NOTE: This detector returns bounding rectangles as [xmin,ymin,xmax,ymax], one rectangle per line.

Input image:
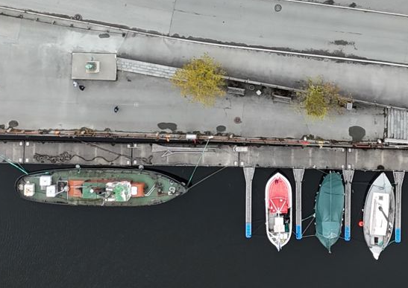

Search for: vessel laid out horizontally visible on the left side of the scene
[14,164,188,210]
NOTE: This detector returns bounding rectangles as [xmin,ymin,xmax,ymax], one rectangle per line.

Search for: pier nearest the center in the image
[133,143,239,169]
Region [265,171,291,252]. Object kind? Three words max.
boat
